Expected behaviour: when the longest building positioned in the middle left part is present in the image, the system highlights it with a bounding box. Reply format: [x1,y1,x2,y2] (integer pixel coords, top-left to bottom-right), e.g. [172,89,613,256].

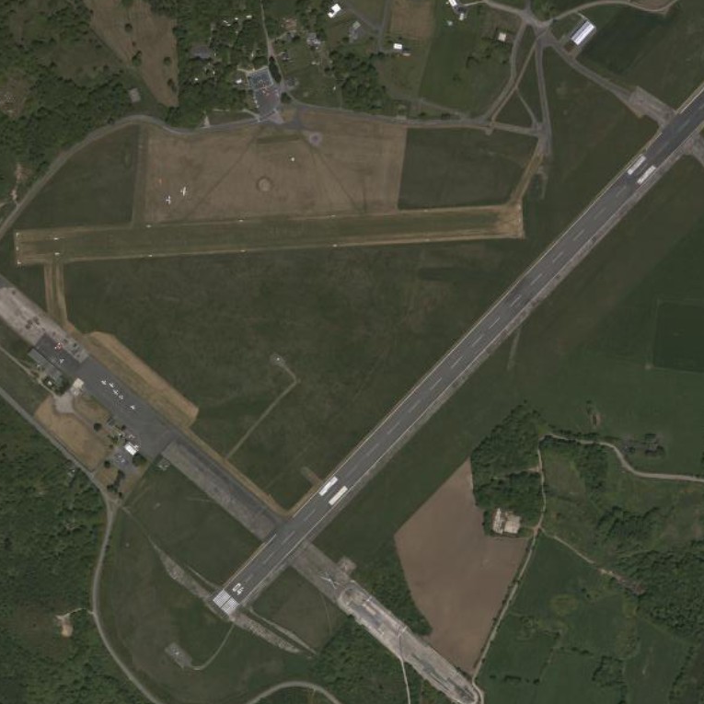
[28,349,62,380]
